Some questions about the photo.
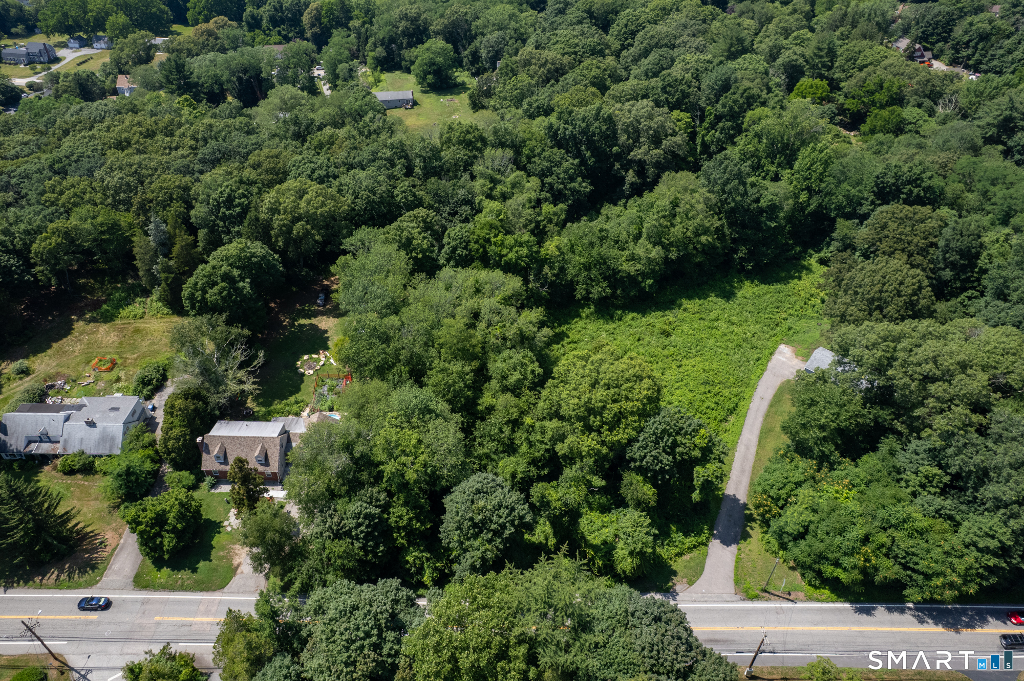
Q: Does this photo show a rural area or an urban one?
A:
rural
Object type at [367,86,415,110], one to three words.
house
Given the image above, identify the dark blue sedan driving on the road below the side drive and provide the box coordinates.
[76,597,111,613]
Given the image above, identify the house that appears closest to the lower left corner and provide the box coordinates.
[0,394,156,467]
